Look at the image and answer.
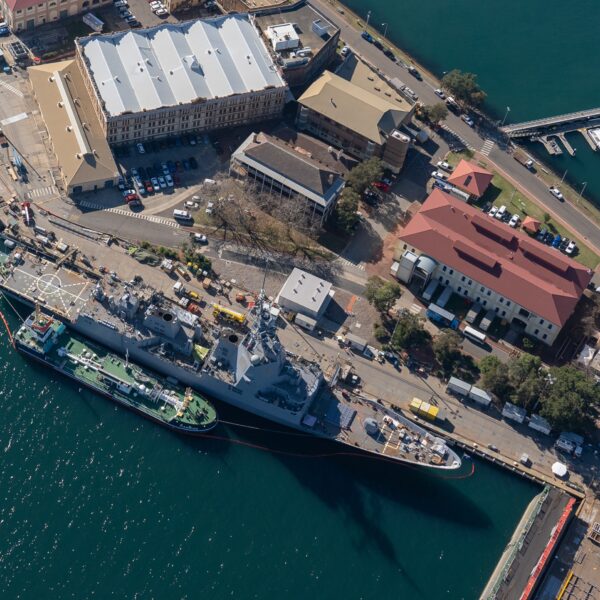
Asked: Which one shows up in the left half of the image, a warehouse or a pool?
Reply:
warehouse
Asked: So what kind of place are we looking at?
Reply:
port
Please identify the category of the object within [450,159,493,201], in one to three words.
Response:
building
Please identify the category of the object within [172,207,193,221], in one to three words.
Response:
vehicle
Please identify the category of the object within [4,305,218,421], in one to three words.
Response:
ship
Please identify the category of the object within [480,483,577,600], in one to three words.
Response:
pier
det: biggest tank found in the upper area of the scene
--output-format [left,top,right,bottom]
[400,121,430,154]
